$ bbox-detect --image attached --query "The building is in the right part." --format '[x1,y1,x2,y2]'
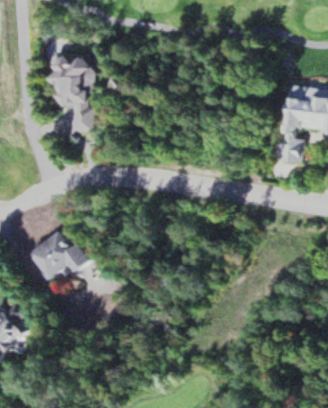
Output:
[281,83,328,159]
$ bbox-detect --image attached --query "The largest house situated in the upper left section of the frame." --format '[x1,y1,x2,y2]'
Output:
[44,52,96,132]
